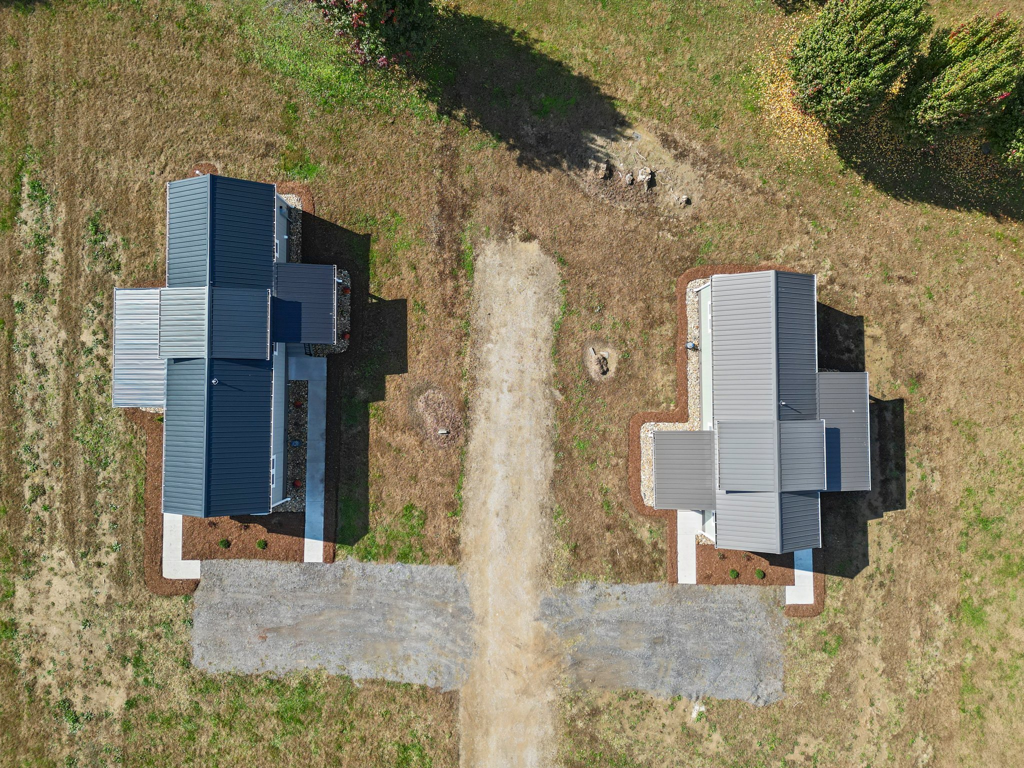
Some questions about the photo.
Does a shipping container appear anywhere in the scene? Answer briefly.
No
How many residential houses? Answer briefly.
2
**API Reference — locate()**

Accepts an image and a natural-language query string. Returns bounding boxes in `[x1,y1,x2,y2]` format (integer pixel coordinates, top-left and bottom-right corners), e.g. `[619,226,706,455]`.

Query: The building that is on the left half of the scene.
[113,173,351,517]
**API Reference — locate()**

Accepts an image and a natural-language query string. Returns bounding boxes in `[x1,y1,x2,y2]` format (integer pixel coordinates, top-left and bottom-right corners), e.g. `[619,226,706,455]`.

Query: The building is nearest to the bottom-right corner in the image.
[639,270,870,554]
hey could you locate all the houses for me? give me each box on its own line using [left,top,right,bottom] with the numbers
[113,173,351,517]
[639,270,870,554]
